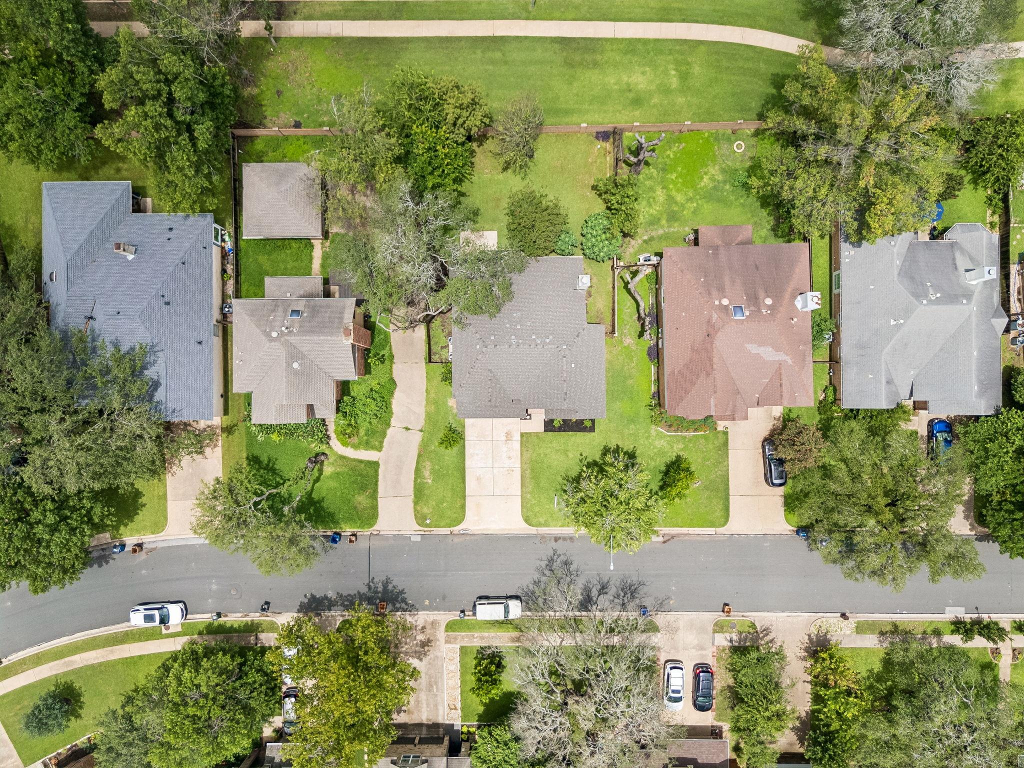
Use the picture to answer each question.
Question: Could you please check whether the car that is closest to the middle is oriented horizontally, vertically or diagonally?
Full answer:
What the image shows is the car that is closest to the middle lying horizontally.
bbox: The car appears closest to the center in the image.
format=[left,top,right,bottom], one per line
[472,595,520,619]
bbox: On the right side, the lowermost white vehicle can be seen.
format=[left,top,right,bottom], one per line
[663,659,686,710]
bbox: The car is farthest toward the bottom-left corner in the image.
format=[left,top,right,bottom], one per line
[135,600,187,625]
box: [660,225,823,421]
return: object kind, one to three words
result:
house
